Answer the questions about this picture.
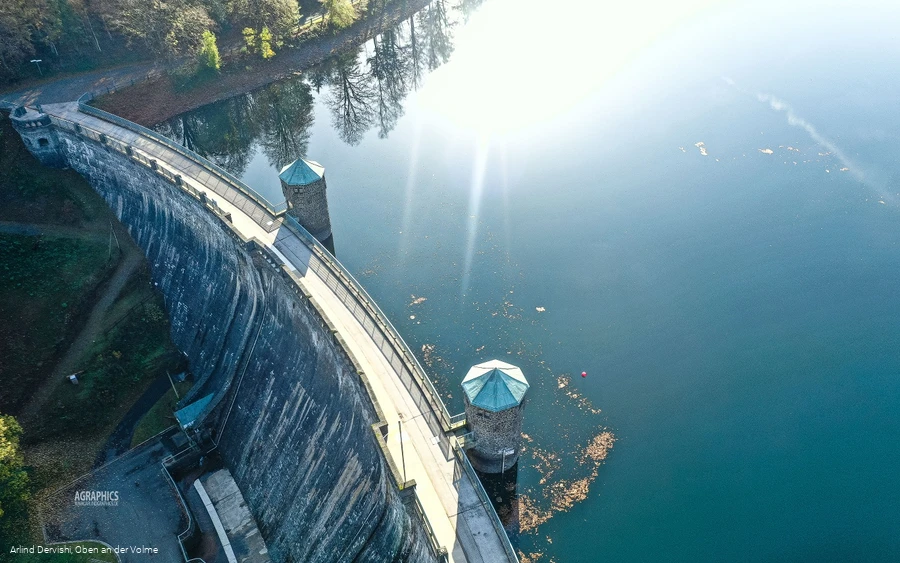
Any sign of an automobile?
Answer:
No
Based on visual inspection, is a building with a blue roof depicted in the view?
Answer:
Yes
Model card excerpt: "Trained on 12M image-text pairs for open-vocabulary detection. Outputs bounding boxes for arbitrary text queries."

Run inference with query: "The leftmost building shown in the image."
[172,392,214,433]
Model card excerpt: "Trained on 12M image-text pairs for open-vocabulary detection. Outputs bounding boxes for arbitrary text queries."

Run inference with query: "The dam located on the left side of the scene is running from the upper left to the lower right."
[33,86,522,563]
